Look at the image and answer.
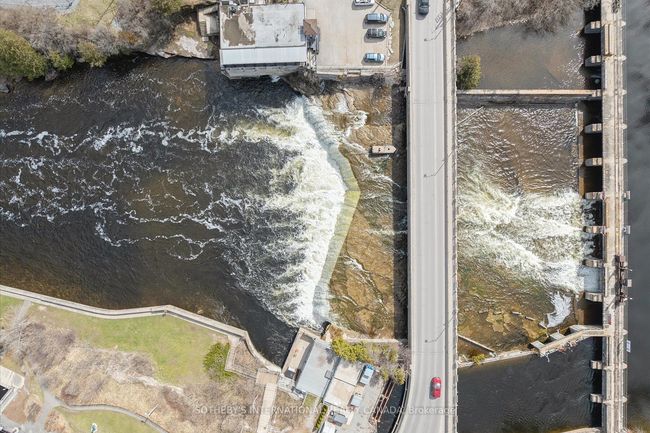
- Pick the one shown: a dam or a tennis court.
dam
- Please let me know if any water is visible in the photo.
Yes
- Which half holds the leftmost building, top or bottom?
bottom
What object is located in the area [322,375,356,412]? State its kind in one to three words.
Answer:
building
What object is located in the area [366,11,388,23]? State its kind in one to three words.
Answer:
vehicle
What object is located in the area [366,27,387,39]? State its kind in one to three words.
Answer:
vehicle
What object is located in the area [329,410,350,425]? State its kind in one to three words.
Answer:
car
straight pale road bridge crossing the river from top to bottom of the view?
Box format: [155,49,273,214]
[388,0,460,433]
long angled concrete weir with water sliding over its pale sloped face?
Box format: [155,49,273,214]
[303,96,361,329]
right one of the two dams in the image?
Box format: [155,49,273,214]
[575,0,633,433]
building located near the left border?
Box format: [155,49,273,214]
[0,357,32,413]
